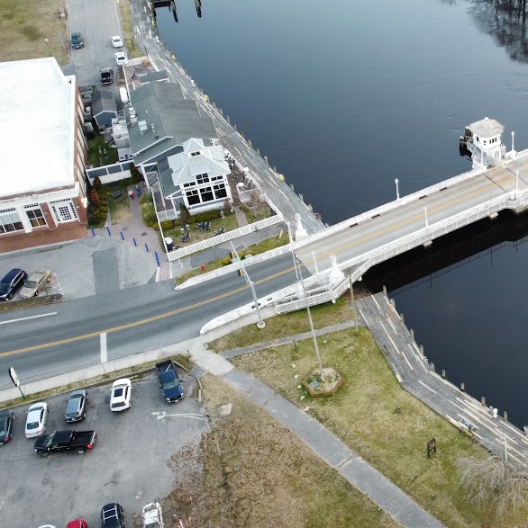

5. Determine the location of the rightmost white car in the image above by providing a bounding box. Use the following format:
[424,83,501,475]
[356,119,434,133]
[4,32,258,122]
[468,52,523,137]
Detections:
[140,498,163,528]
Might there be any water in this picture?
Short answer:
Yes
